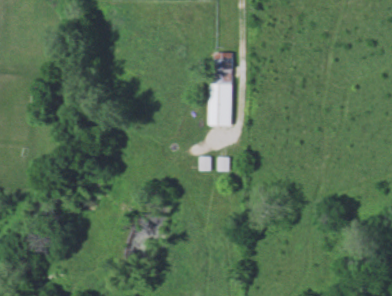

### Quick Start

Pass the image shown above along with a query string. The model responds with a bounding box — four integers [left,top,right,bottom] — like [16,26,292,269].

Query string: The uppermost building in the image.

[214,52,233,82]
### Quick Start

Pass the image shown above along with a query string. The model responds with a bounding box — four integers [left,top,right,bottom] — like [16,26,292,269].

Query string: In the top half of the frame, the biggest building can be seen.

[207,83,232,127]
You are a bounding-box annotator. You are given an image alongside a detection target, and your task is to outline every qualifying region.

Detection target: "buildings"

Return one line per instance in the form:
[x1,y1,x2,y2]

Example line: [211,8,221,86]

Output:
[198,156,212,172]
[207,83,232,127]
[216,156,230,172]
[128,220,160,254]
[214,52,233,82]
